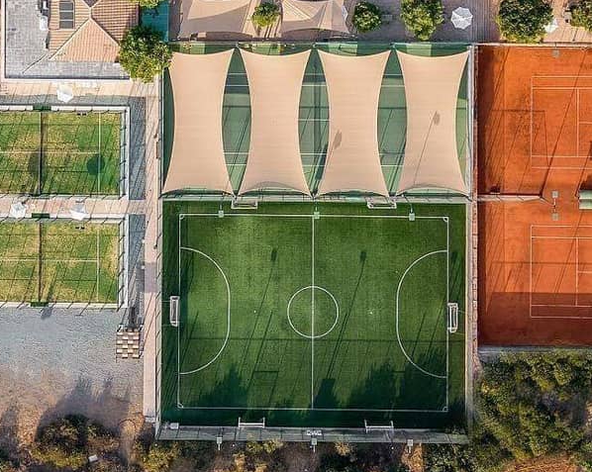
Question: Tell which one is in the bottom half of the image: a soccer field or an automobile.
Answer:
soccer field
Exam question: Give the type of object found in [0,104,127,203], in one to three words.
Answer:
sports court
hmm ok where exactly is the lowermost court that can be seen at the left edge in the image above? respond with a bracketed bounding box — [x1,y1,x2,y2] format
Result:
[0,215,125,314]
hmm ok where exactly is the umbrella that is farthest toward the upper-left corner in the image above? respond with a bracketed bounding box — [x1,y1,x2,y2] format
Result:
[58,85,74,101]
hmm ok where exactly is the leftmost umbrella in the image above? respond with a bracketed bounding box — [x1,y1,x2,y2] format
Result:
[11,200,27,216]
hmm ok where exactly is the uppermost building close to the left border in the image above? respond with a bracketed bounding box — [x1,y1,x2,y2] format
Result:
[2,0,145,80]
